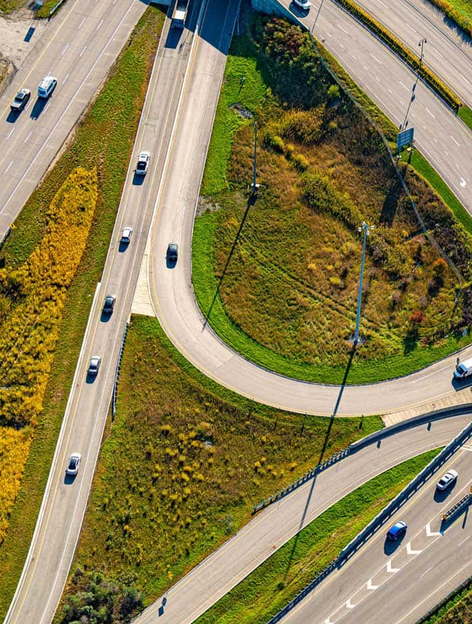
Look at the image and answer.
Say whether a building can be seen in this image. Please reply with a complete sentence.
No, the frame has no building in it.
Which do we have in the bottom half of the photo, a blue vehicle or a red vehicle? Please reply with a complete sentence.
It is a blue vehicle that can be seen in the bottom half of the photo.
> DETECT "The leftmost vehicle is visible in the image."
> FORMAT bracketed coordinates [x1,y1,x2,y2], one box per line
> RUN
[10,91,29,111]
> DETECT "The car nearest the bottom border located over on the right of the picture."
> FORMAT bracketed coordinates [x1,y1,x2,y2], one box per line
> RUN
[385,524,407,542]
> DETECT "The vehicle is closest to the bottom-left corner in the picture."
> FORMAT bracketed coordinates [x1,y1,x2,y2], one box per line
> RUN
[66,456,80,477]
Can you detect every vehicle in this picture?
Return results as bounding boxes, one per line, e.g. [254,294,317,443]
[38,79,56,97]
[293,0,311,10]
[103,295,115,314]
[135,154,149,175]
[385,524,407,542]
[120,229,133,245]
[453,359,472,381]
[167,245,178,262]
[435,471,458,492]
[87,357,100,377]
[10,91,29,111]
[66,456,80,477]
